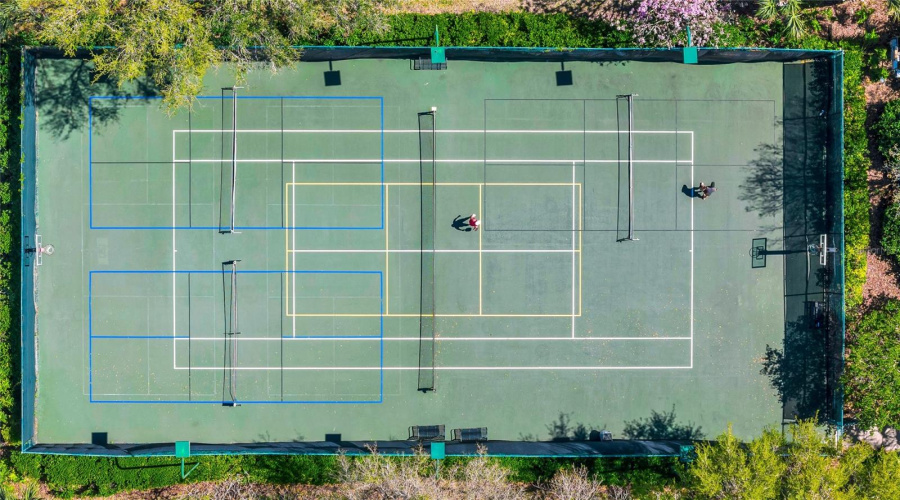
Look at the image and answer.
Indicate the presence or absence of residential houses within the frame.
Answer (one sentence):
No, no residential house is visible in the view.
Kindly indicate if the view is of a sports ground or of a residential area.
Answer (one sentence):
What you see here is a sports ground.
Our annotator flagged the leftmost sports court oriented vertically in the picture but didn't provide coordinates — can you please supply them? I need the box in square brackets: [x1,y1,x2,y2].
[82,106,214,395]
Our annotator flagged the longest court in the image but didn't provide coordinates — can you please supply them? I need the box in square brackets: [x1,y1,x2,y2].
[38,57,829,446]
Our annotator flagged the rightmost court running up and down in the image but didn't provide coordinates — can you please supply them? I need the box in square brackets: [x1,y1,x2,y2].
[266,106,400,395]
